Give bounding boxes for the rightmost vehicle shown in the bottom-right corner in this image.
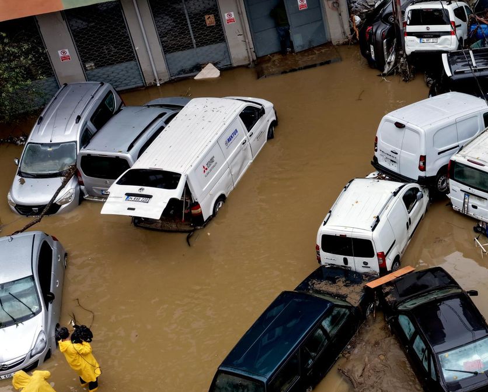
[379,265,488,392]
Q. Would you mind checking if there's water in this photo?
Yes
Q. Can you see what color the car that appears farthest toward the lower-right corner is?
black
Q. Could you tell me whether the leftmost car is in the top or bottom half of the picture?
bottom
